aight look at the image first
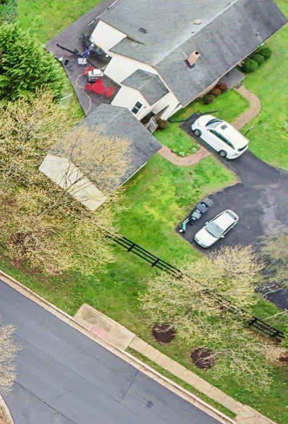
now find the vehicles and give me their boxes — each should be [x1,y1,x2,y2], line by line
[190,208,240,250]
[189,118,248,161]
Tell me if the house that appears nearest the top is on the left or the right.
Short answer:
right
